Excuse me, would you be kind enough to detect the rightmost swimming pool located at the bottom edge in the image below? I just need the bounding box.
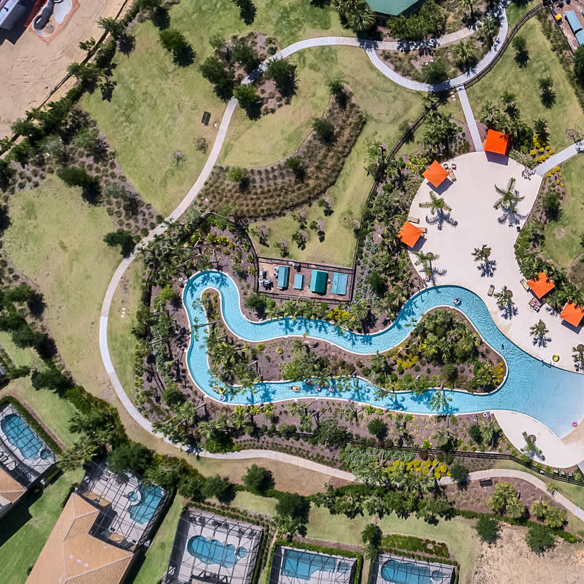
[379,560,433,584]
